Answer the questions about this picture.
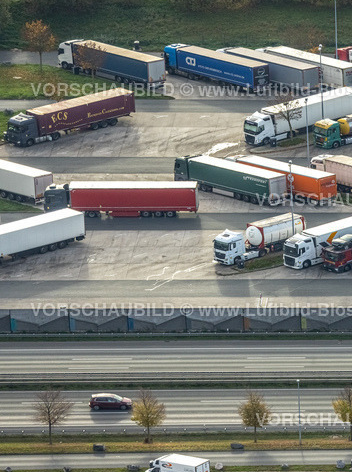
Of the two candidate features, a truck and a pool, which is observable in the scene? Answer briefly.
truck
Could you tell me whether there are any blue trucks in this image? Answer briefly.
Yes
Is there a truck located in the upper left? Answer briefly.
Yes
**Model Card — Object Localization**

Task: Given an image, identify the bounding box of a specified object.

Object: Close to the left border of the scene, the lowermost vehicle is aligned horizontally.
[0,208,86,264]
